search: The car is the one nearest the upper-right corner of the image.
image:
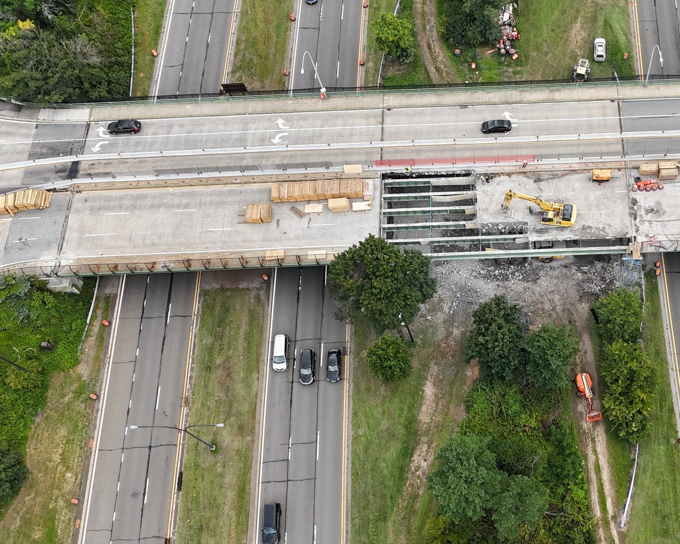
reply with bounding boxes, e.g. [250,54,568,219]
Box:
[593,38,607,63]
